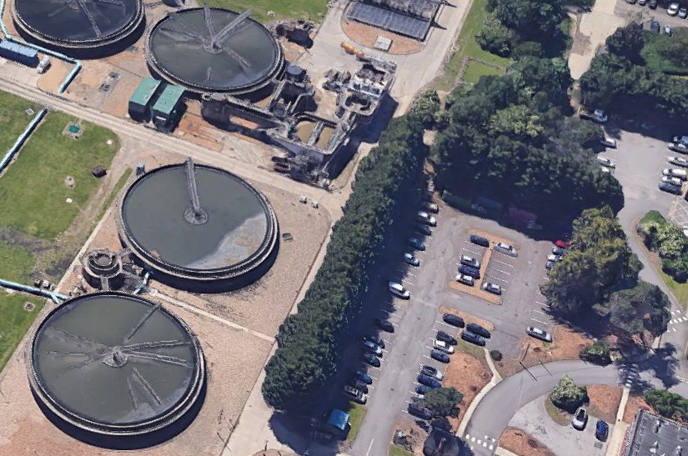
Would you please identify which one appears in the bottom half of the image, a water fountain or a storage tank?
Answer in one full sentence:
Visible in the bottom half of the image is a storage tank.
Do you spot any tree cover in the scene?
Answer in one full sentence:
Yes, there's tree cover in this view.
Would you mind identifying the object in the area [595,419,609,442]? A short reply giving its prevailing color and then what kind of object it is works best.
blue car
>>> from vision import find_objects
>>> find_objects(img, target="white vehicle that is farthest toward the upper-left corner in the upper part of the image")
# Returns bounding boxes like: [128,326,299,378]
[38,53,52,73]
